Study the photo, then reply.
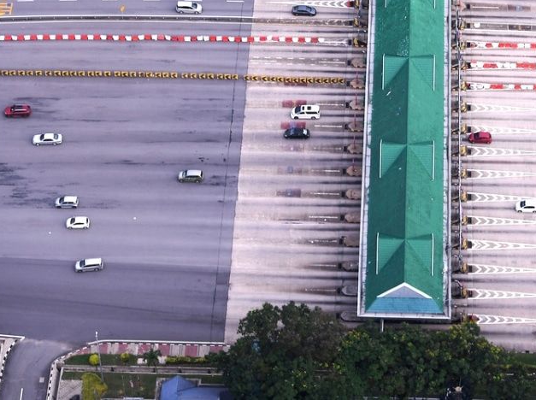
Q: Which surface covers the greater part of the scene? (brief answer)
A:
paved ground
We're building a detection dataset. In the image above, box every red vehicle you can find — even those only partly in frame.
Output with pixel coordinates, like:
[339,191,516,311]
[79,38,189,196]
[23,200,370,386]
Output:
[4,104,32,118]
[469,132,492,144]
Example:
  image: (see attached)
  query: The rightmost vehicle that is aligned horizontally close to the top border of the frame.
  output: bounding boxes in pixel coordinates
[292,4,317,16]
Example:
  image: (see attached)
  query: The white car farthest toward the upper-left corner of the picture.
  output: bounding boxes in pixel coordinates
[33,133,62,146]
